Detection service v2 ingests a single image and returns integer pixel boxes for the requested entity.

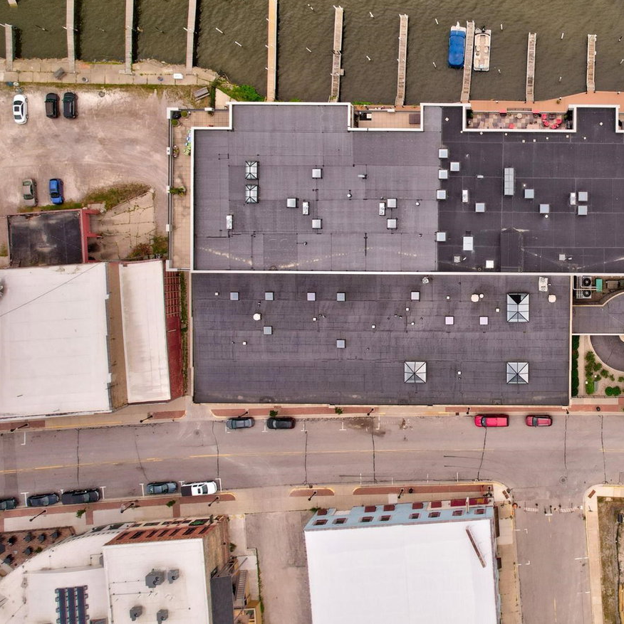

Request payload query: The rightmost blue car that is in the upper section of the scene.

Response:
[49,178,65,204]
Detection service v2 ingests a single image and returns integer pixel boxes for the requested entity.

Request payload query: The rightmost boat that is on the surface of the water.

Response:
[475,27,493,73]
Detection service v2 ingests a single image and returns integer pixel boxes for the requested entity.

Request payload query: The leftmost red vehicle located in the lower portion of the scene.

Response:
[476,414,509,428]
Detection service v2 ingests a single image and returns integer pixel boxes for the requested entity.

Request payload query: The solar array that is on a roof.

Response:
[56,585,90,624]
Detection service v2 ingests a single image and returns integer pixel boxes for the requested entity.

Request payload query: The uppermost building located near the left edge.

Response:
[9,209,111,267]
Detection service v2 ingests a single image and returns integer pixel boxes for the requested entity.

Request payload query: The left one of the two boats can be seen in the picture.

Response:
[447,23,466,70]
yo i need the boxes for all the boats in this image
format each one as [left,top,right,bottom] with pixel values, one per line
[447,23,466,70]
[475,27,493,73]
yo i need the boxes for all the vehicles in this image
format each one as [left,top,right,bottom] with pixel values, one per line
[49,178,65,204]
[22,178,39,206]
[228,417,256,430]
[43,93,60,119]
[149,481,178,495]
[476,414,509,428]
[0,496,19,512]
[180,481,219,497]
[62,93,79,119]
[61,487,102,505]
[527,415,553,428]
[12,95,30,123]
[30,492,60,506]
[269,417,296,430]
